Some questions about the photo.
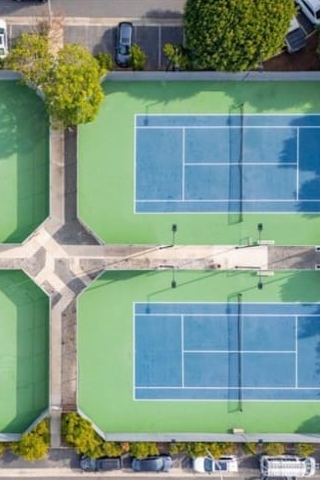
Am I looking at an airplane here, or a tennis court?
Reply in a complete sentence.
Of the two, only a tennis court appears.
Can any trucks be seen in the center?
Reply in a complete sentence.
No, in the center there is no truck.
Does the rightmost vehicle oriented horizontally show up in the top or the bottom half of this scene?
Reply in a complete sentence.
The bottom half of the photo is where the rightmost vehicle oriented horizontally is.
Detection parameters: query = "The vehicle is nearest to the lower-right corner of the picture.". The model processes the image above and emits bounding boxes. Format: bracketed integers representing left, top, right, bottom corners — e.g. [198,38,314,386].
[259,456,316,480]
